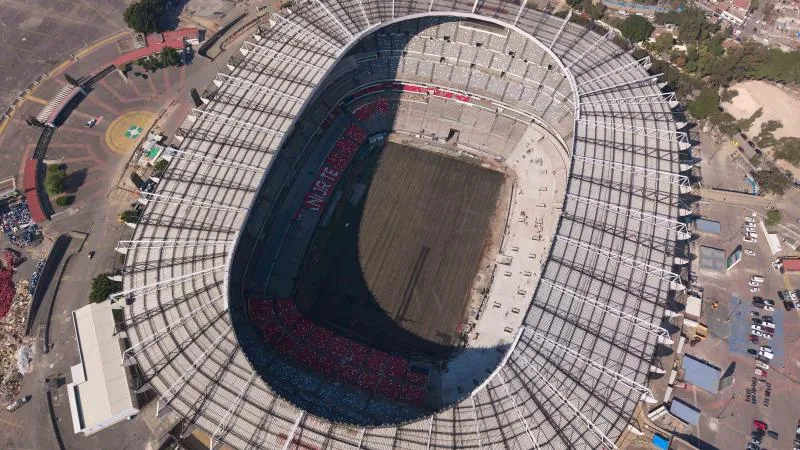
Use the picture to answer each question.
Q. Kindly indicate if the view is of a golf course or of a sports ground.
sports ground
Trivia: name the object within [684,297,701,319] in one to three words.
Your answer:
building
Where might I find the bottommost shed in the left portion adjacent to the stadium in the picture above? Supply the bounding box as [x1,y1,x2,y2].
[67,301,141,436]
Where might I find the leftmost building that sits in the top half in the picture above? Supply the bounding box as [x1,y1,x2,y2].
[38,86,86,131]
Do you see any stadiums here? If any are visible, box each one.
[110,0,695,450]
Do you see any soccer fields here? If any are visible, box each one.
[304,139,504,356]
